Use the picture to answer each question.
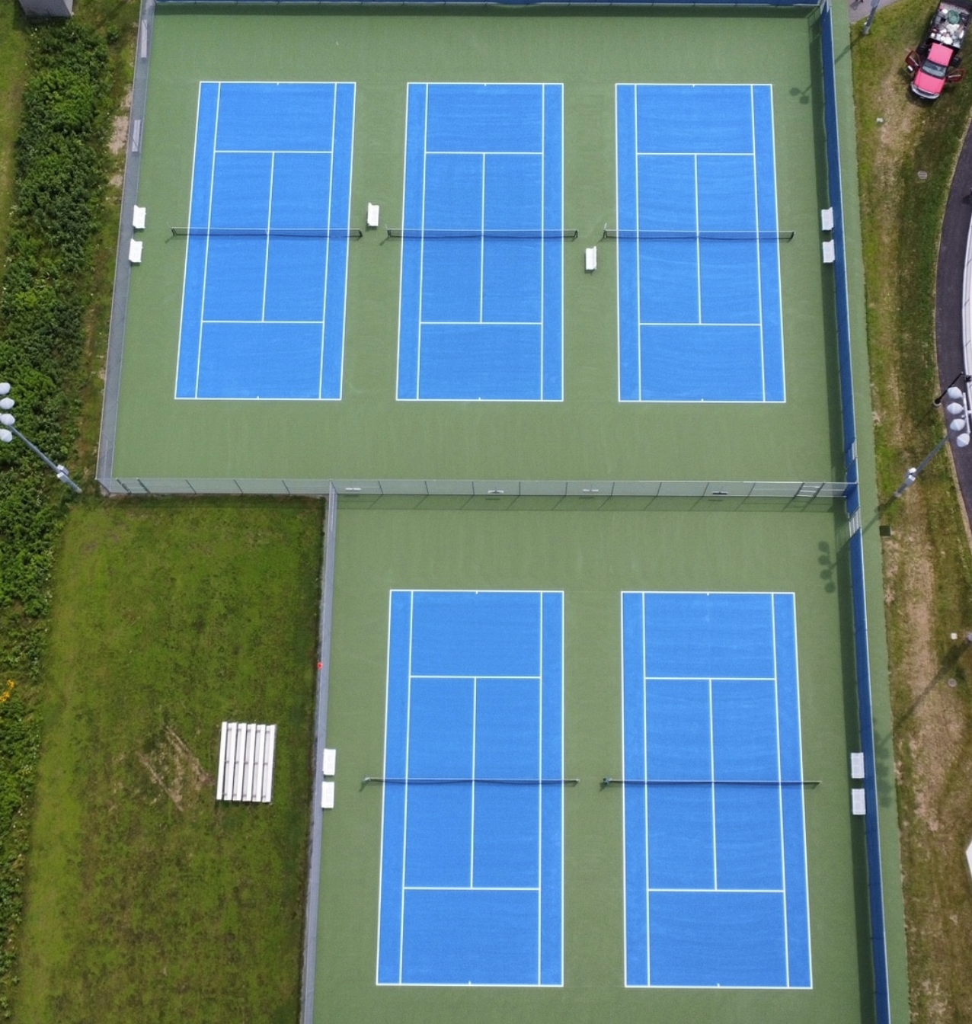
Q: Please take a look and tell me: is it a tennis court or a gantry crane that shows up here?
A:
tennis court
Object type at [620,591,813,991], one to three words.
tennis court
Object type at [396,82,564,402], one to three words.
tennis court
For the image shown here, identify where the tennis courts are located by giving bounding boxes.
[620,591,813,991]
[615,83,787,404]
[396,82,564,402]
[376,590,564,988]
[175,81,356,401]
